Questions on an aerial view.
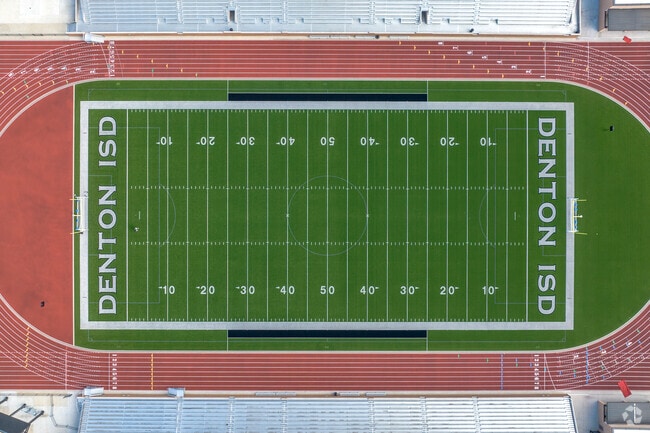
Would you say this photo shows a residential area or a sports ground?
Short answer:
sports ground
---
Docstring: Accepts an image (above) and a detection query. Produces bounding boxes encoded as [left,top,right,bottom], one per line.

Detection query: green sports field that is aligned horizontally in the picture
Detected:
[75,80,650,352]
